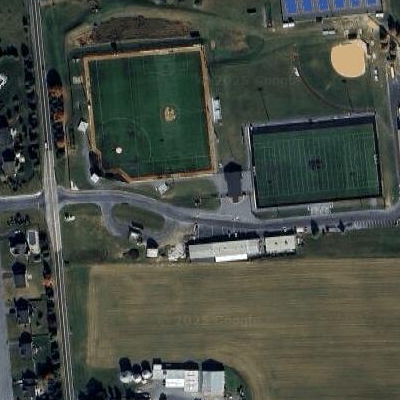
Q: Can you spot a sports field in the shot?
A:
Yes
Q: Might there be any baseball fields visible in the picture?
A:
Yes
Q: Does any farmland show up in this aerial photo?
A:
Yes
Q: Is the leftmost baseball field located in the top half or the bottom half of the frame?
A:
top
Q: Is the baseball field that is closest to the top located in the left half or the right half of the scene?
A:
right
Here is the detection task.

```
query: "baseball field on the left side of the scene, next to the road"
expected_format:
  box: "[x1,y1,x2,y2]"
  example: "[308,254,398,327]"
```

[82,45,216,184]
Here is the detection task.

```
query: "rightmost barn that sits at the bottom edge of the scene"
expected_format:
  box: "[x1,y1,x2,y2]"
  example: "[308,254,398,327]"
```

[201,370,225,395]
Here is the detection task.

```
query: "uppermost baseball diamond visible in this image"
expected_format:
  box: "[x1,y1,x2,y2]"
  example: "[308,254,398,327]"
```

[294,40,374,113]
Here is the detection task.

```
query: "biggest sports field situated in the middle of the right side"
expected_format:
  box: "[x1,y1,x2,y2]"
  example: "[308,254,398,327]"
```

[248,112,382,211]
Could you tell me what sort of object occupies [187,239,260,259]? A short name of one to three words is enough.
building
